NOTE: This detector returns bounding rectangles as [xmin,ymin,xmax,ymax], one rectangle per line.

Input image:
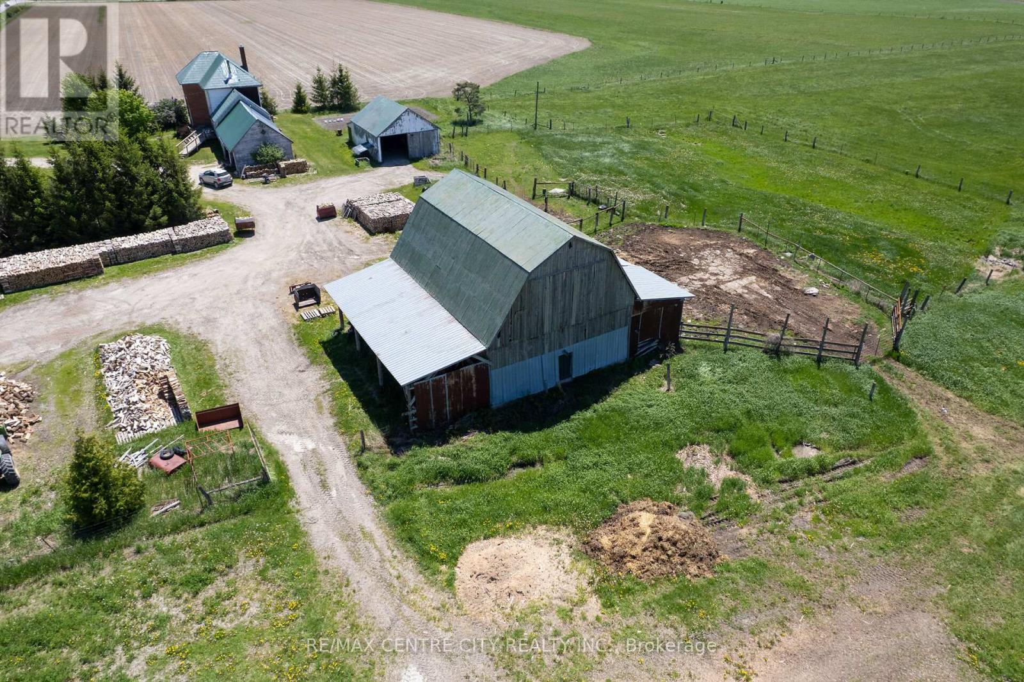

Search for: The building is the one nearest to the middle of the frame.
[323,168,696,430]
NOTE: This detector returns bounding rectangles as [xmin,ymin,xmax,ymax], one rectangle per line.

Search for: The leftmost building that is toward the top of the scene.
[171,48,300,171]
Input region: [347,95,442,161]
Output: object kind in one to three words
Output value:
shed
